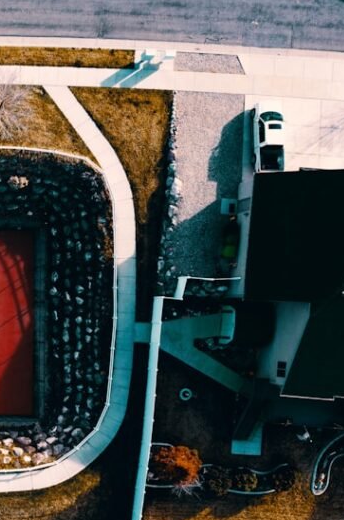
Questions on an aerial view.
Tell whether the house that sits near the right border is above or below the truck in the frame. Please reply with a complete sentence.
Looking at the scene, the house that sits near the right border is located below the truck.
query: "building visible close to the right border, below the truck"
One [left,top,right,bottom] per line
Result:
[228,161,344,406]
